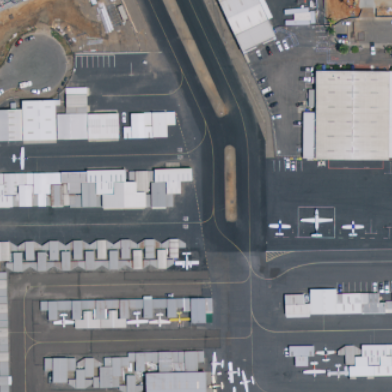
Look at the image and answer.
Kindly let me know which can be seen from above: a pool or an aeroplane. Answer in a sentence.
The image shows an aeroplane.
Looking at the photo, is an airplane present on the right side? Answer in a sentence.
Yes, an airplane is visible on the right side.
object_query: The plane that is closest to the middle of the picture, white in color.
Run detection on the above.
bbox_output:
[175,252,200,270]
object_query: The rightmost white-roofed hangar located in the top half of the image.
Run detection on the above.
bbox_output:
[316,70,392,161]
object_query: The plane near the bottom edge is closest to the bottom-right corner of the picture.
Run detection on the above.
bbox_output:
[328,363,349,378]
